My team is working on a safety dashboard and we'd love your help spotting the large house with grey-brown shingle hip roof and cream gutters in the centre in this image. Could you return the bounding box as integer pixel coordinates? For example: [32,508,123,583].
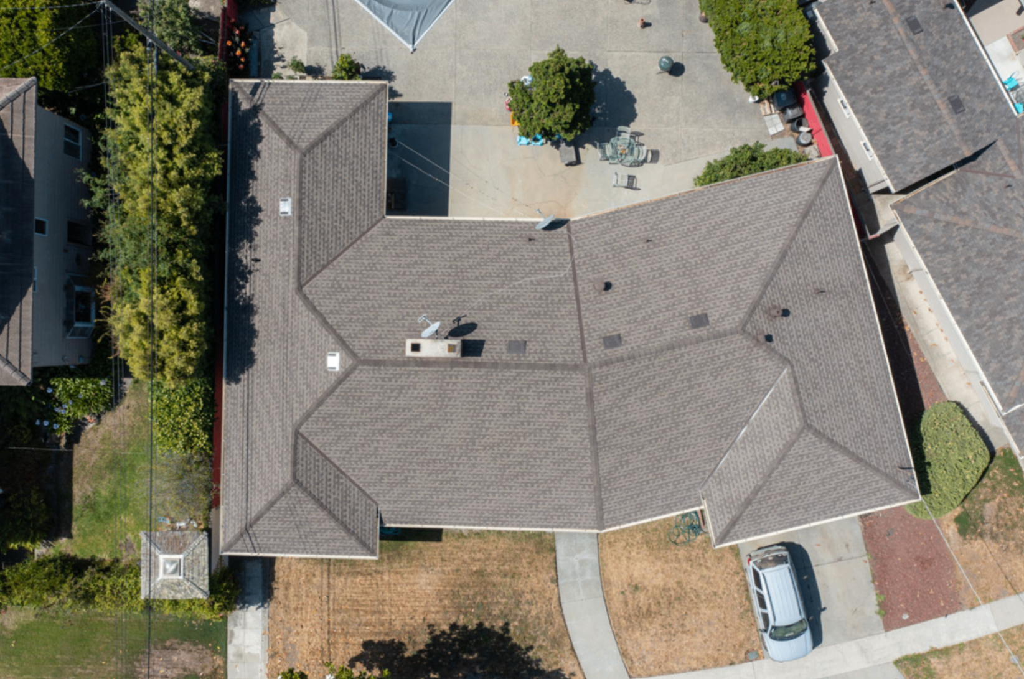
[221,80,920,558]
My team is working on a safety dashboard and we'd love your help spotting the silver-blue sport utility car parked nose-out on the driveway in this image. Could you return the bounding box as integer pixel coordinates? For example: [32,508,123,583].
[741,540,812,665]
